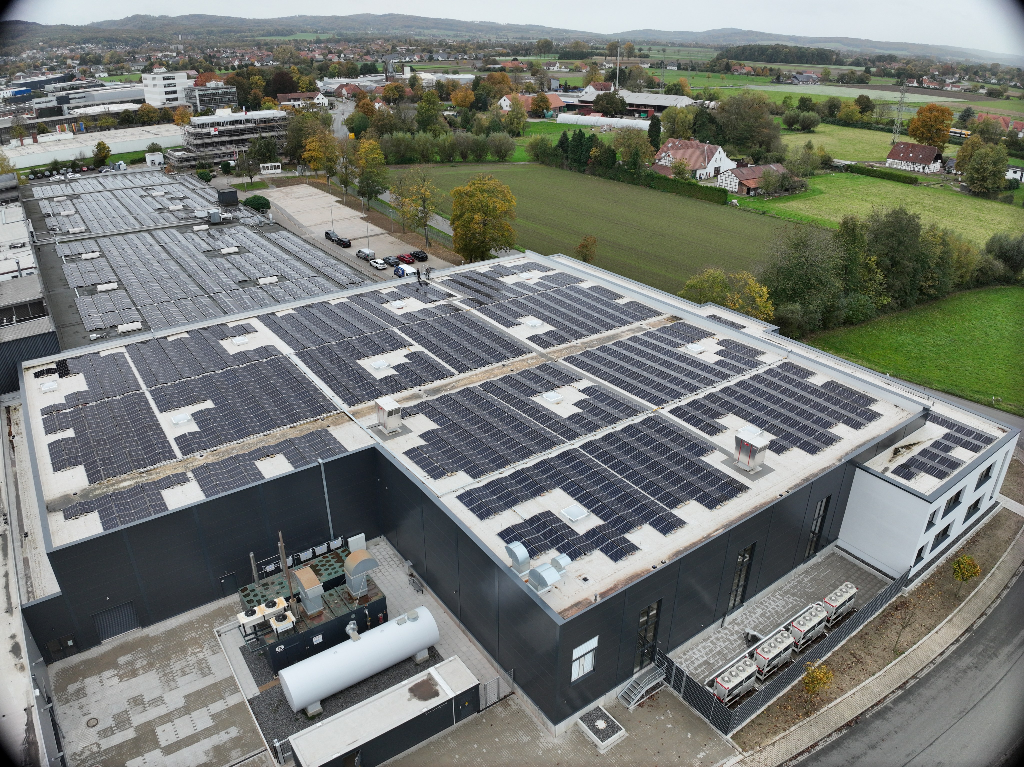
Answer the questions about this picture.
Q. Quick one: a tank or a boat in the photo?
tank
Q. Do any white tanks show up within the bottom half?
Yes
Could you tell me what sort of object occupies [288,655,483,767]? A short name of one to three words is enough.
shed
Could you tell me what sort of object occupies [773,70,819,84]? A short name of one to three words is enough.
house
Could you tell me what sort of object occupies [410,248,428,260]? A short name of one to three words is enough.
vehicle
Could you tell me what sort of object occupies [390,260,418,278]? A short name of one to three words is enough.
vehicle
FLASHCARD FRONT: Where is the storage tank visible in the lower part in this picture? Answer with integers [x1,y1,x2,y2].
[273,593,442,708]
